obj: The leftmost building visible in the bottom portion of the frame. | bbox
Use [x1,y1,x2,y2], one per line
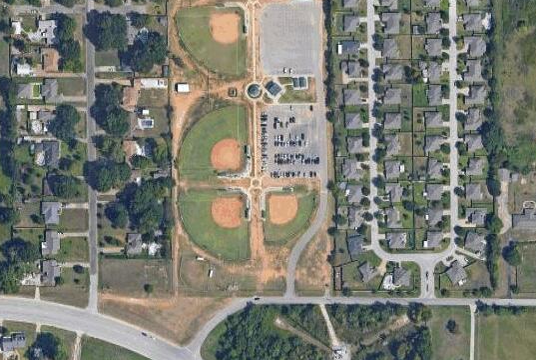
[2,335,22,350]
